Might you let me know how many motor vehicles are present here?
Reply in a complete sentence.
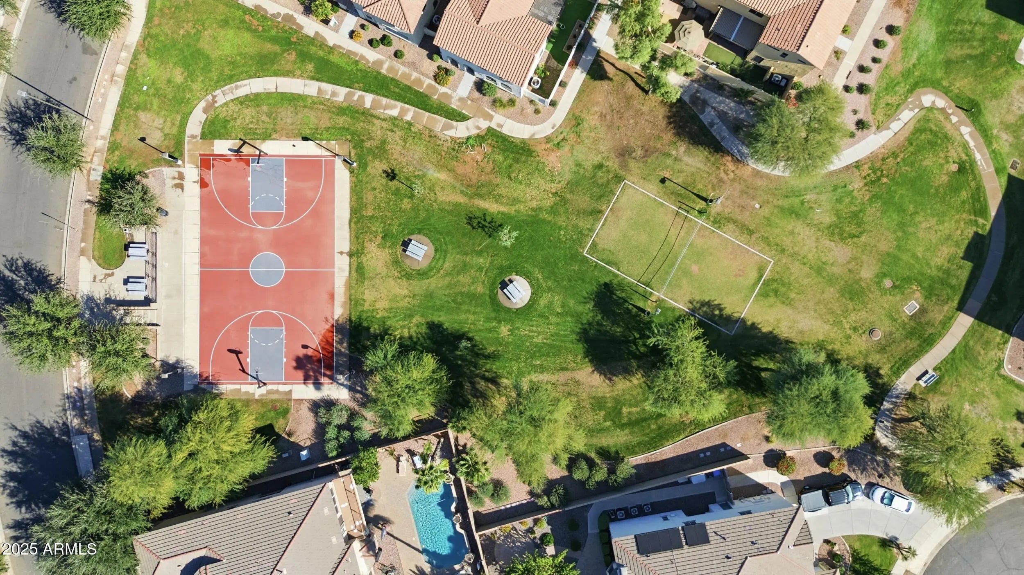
In total, 2 motor vehicles can be seen.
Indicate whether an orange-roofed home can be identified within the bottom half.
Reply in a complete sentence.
No, no orange-roofed home appears within the bottom half.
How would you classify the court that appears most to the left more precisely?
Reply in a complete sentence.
It turns out the court that appears most to the left is a basketball court.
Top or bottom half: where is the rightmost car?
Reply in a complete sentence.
Seen from above, the rightmost car lies in the bottom half of the view.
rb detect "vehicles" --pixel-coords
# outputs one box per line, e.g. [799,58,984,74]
[801,481,862,511]
[868,484,917,514]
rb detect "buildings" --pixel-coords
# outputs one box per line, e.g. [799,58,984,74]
[346,0,437,46]
[132,464,384,575]
[433,0,552,97]
[608,492,816,575]
[697,0,857,81]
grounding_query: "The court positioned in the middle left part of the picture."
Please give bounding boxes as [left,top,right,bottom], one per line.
[199,154,335,385]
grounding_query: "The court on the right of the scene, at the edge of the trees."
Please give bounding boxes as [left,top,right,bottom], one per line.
[585,182,773,334]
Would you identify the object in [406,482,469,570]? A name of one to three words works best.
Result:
swimming pool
